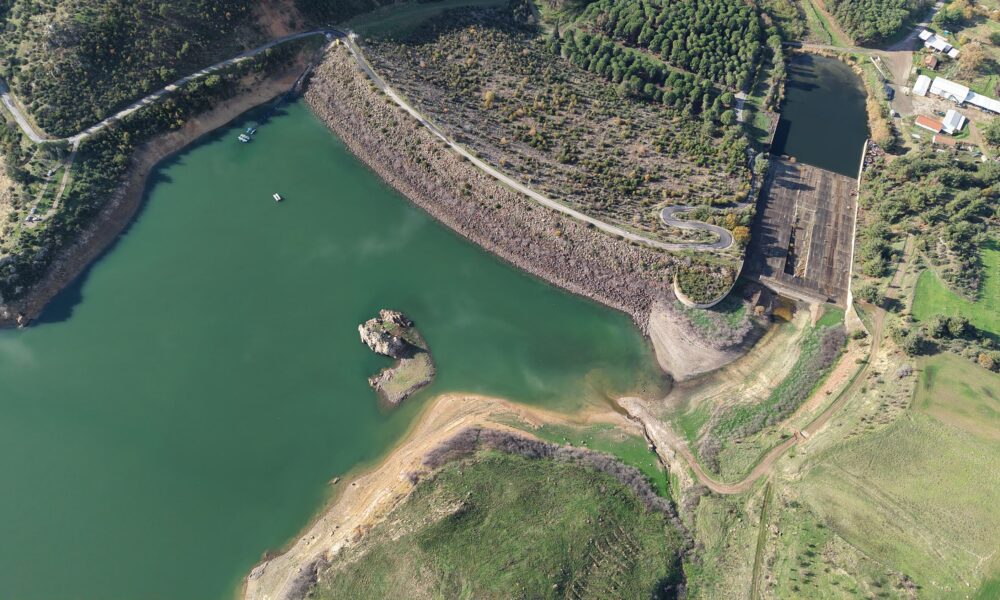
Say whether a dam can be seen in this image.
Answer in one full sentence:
Yes, there is a dam in the image.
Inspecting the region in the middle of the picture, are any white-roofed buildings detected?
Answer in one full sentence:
No, there is no white-roofed building in the middle of the picture.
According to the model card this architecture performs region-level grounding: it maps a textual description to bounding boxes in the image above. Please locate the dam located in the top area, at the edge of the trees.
[297,26,745,344]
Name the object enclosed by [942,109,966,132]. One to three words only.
building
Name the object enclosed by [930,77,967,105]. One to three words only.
barn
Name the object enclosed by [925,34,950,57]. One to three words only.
house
